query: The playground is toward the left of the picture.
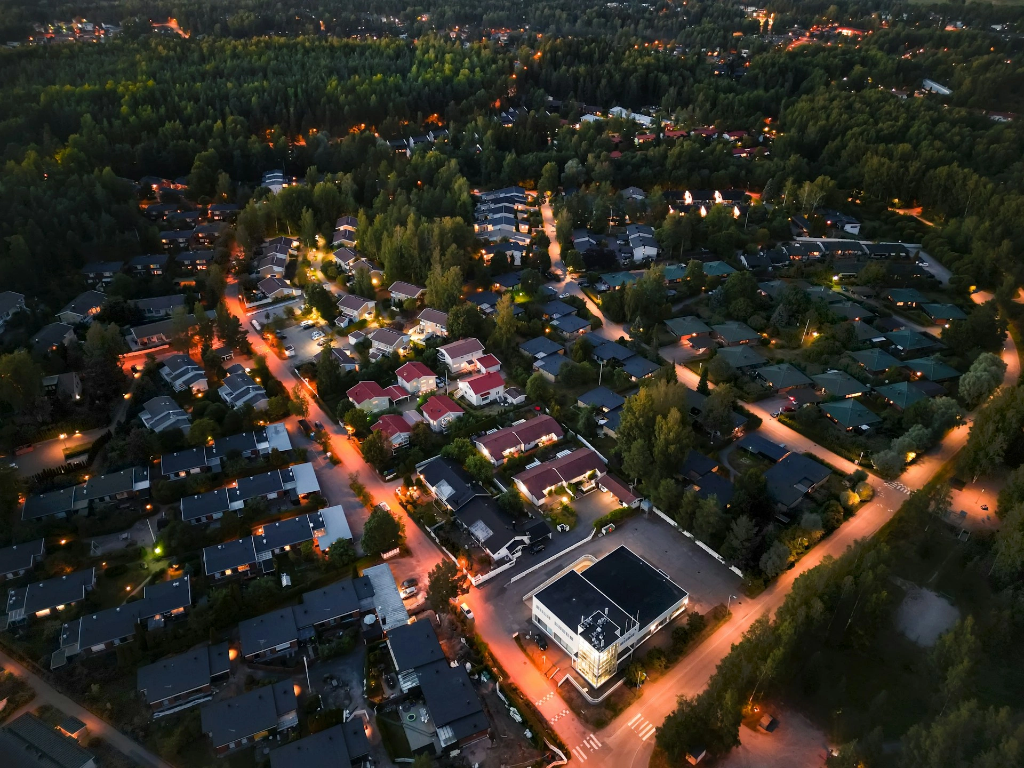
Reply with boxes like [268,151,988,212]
[86,508,164,553]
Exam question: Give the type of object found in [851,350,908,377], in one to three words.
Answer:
house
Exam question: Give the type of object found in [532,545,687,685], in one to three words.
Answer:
building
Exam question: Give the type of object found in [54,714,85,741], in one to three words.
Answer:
shed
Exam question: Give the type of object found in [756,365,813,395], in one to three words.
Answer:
house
